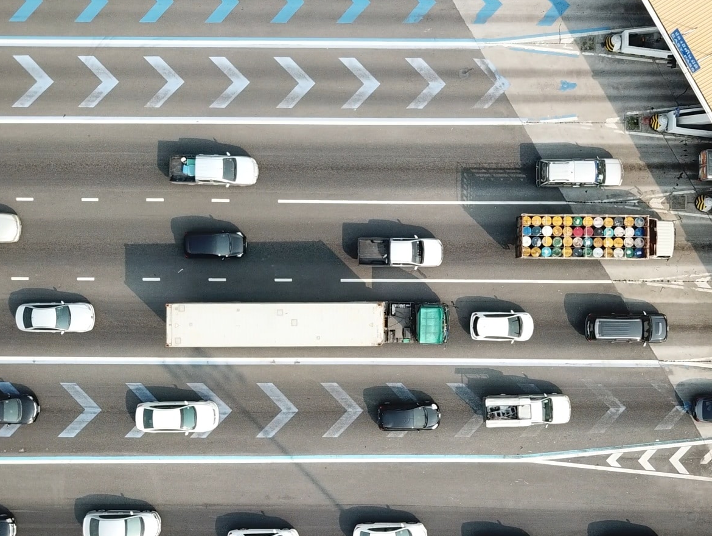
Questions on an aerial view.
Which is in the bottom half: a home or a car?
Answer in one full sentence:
What appears in the bottom half is a car.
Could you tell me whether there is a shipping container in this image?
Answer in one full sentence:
Yes, there is a shipping container in the image.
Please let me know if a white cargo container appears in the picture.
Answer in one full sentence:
Yes, there's a white cargo container here.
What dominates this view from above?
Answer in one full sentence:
The bulk of the photo consists of paved ground.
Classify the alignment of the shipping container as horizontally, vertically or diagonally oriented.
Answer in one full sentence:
The shipping container is laid out horizontally.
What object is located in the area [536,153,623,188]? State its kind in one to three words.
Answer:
car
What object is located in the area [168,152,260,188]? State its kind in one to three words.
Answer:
truck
